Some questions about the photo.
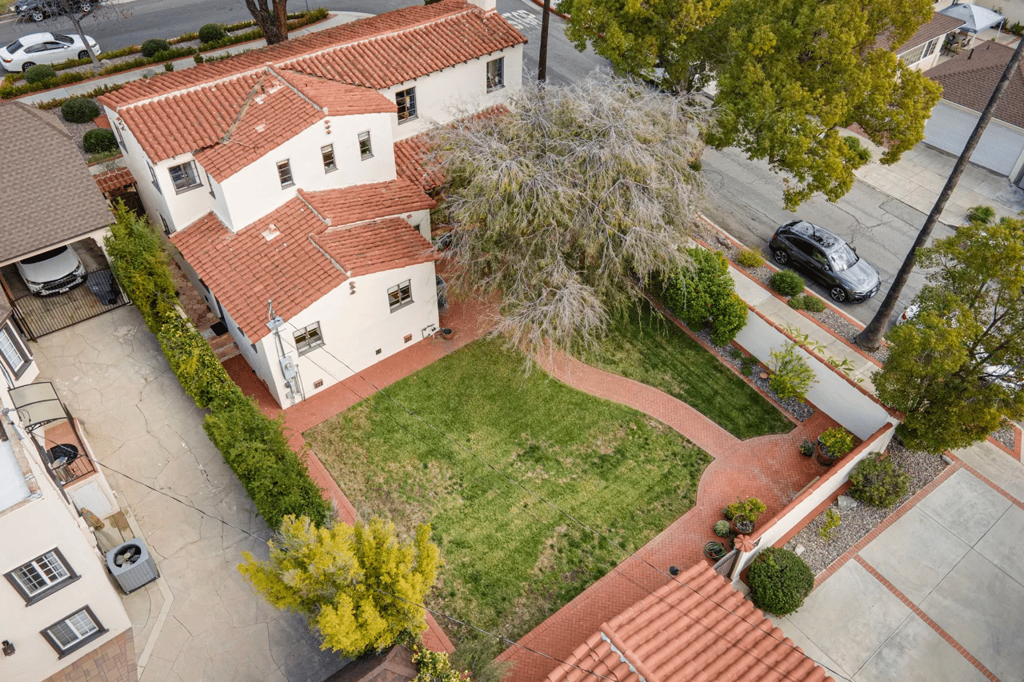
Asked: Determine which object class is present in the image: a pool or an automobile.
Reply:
automobile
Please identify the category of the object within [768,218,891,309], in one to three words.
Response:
car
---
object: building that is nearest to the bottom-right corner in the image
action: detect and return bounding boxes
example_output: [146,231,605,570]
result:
[540,560,836,682]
